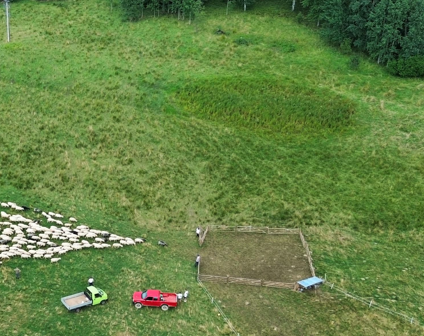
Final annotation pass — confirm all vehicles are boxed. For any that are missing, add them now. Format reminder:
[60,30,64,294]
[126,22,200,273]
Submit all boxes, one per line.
[130,289,176,311]
[58,286,108,312]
